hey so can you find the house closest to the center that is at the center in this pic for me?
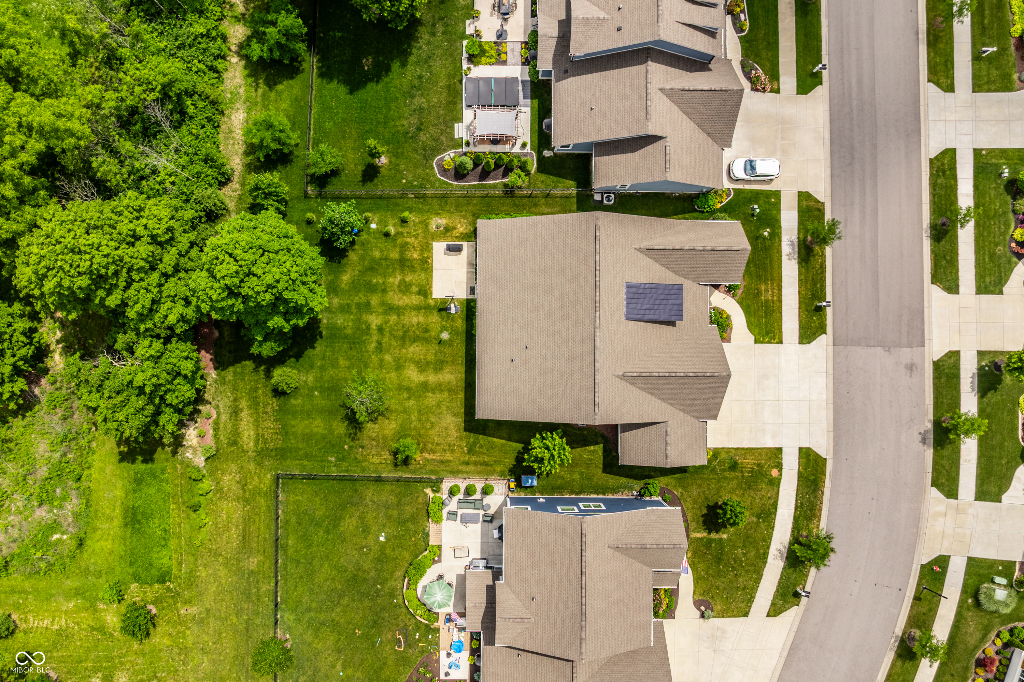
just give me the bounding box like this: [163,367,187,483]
[475,211,752,468]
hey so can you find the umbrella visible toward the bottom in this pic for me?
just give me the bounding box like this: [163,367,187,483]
[423,580,454,610]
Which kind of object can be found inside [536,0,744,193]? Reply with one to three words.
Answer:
house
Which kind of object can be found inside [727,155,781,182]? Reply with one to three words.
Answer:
car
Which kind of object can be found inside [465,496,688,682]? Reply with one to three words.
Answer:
house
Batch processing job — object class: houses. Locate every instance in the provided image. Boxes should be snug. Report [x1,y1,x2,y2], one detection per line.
[536,0,744,193]
[475,211,752,468]
[1005,646,1024,682]
[465,496,688,682]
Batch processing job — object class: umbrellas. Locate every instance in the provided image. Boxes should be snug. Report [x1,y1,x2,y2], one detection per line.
[423,580,454,610]
[496,18,507,39]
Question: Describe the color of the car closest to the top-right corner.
white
